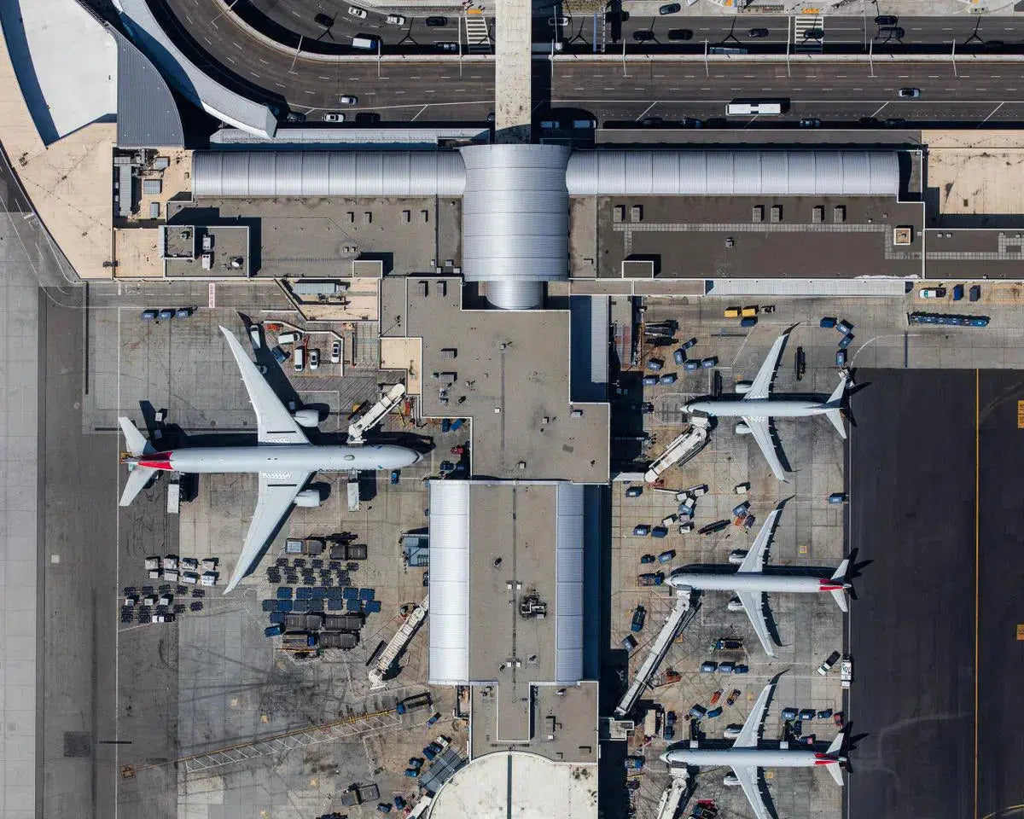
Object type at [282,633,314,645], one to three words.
vehicle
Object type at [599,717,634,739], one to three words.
building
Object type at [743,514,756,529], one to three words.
vehicle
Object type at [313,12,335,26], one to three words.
car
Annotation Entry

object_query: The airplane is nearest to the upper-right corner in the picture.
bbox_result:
[680,333,851,485]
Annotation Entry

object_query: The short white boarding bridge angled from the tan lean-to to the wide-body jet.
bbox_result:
[346,382,407,447]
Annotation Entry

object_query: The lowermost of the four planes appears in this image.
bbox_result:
[659,683,846,819]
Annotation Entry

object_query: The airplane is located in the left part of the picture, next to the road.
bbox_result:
[118,325,423,595]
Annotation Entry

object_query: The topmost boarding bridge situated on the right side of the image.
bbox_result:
[644,407,709,482]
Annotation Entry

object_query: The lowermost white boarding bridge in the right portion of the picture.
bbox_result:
[651,756,690,819]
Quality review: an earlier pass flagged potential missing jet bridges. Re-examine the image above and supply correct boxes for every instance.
[346,382,407,447]
[615,584,695,718]
[366,593,429,692]
[644,407,709,482]
[651,756,690,819]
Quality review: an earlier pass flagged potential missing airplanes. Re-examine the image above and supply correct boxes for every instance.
[664,509,851,660]
[680,333,851,485]
[118,325,423,595]
[659,683,846,819]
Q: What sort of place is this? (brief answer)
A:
airport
